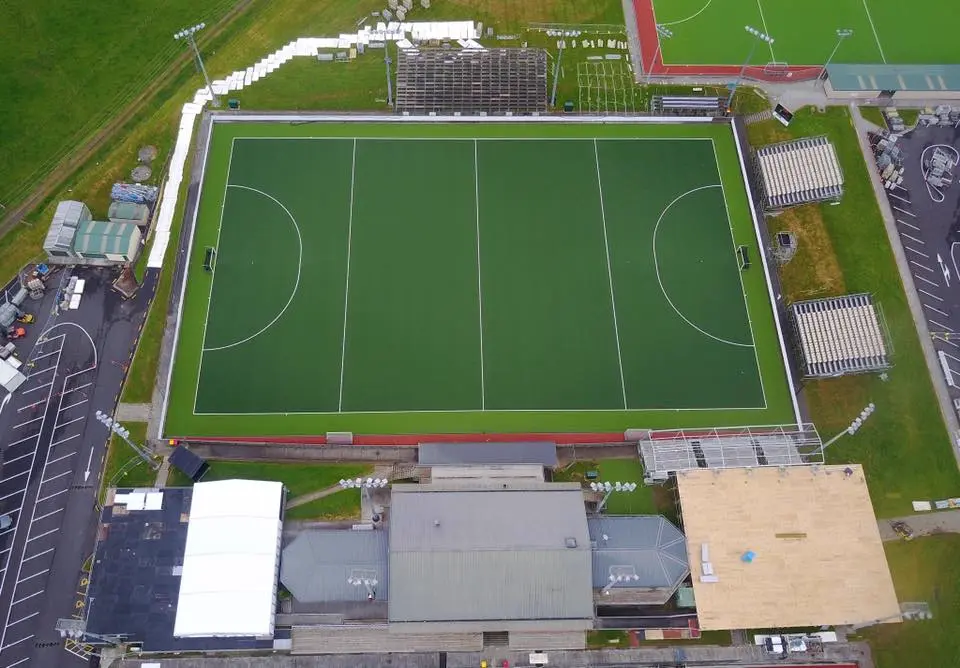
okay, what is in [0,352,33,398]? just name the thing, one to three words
truck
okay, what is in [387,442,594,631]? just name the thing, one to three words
building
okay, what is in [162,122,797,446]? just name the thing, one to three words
sports field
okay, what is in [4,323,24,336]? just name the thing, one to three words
vehicle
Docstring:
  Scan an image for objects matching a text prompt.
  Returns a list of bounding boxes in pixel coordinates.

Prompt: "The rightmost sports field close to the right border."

[634,0,960,80]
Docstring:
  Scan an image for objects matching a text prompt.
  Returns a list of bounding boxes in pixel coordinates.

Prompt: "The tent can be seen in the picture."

[172,479,291,640]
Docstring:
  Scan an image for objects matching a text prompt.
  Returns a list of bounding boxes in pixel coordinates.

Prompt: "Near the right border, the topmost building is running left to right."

[819,64,960,101]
